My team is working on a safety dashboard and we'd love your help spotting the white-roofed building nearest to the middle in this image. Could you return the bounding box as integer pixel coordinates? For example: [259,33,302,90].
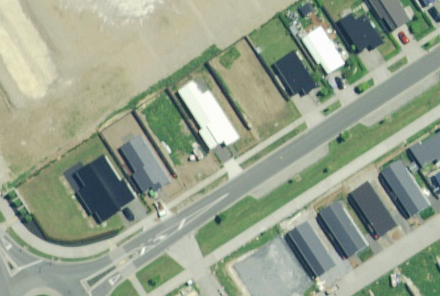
[178,80,240,152]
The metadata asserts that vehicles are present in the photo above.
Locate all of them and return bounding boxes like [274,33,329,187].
[123,206,135,222]
[335,75,344,90]
[155,202,165,218]
[398,30,410,45]
[429,6,440,22]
